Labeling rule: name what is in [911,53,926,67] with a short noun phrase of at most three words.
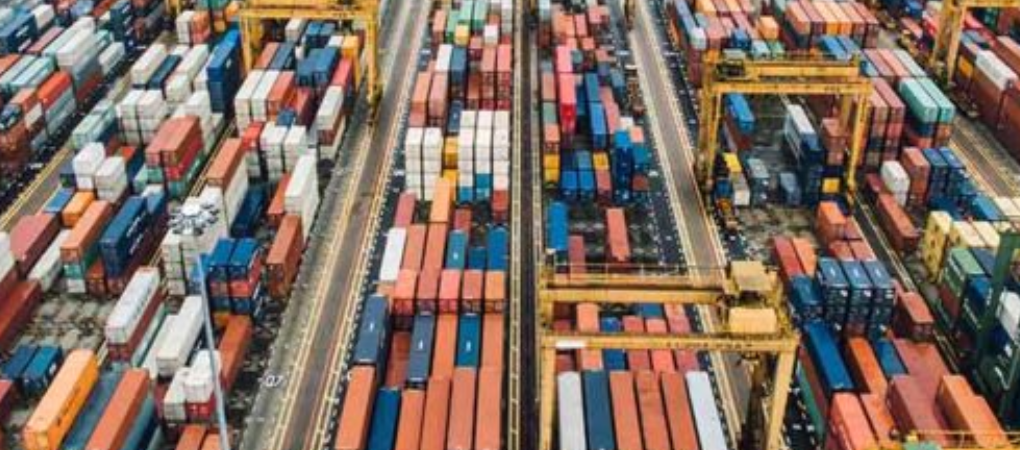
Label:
vehicle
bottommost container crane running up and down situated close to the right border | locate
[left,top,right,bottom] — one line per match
[968,221,1020,420]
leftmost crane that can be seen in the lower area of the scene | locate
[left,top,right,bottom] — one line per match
[535,262,793,450]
